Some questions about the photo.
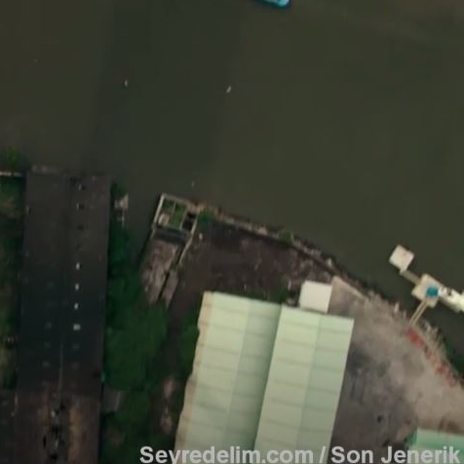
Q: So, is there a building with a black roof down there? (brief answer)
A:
Yes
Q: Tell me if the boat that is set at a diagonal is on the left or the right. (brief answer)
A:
right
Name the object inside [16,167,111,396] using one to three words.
building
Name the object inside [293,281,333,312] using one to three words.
building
